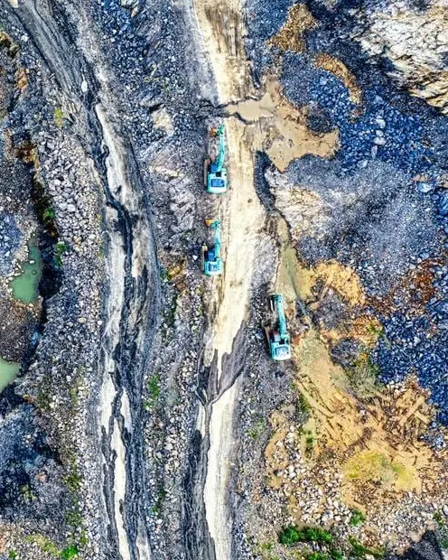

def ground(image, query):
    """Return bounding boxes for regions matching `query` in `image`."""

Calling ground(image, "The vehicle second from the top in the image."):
[198,220,227,278]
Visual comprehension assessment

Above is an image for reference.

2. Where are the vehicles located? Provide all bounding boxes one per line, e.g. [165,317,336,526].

[265,299,295,365]
[198,220,227,278]
[202,121,232,195]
